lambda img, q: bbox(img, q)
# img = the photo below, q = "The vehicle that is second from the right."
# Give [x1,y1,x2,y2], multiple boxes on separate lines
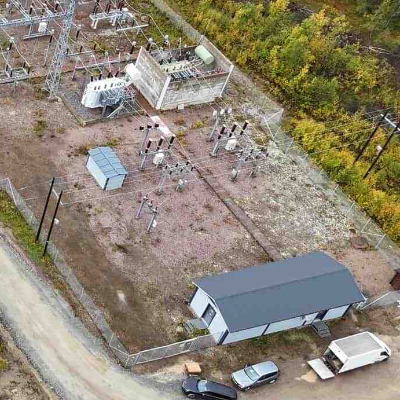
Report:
[231,364,286,392]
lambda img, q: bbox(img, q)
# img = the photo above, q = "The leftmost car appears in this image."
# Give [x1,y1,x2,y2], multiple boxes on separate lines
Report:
[183,376,242,400]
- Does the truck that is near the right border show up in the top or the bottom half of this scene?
bottom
